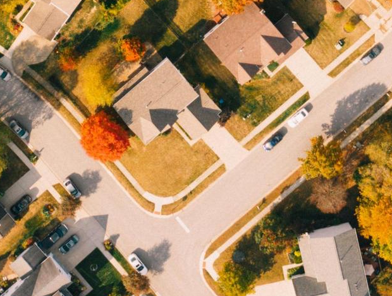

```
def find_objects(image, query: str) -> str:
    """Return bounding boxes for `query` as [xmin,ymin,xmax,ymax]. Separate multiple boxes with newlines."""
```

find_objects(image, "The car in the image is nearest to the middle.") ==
[262,131,284,150]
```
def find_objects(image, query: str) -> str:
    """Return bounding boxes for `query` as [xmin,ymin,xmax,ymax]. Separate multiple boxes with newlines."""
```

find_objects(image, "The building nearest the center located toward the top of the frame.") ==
[113,58,225,146]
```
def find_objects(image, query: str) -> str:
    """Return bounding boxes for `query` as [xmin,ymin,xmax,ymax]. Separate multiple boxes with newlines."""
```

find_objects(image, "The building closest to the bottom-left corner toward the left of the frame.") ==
[0,239,77,296]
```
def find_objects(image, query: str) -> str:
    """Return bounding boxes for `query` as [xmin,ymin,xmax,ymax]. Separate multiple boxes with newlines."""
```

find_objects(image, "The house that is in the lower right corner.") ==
[289,224,367,296]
